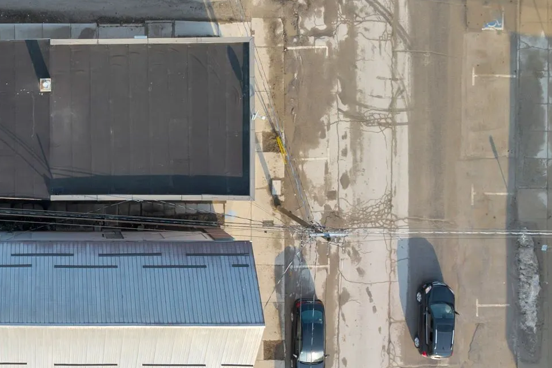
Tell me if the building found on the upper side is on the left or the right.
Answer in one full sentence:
The building found on the upper side sits on the left side.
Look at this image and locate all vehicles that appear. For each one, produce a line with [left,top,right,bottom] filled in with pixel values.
[411,278,462,360]
[289,296,334,368]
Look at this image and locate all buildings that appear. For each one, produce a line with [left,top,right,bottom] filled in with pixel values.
[0,229,263,368]
[0,38,254,200]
